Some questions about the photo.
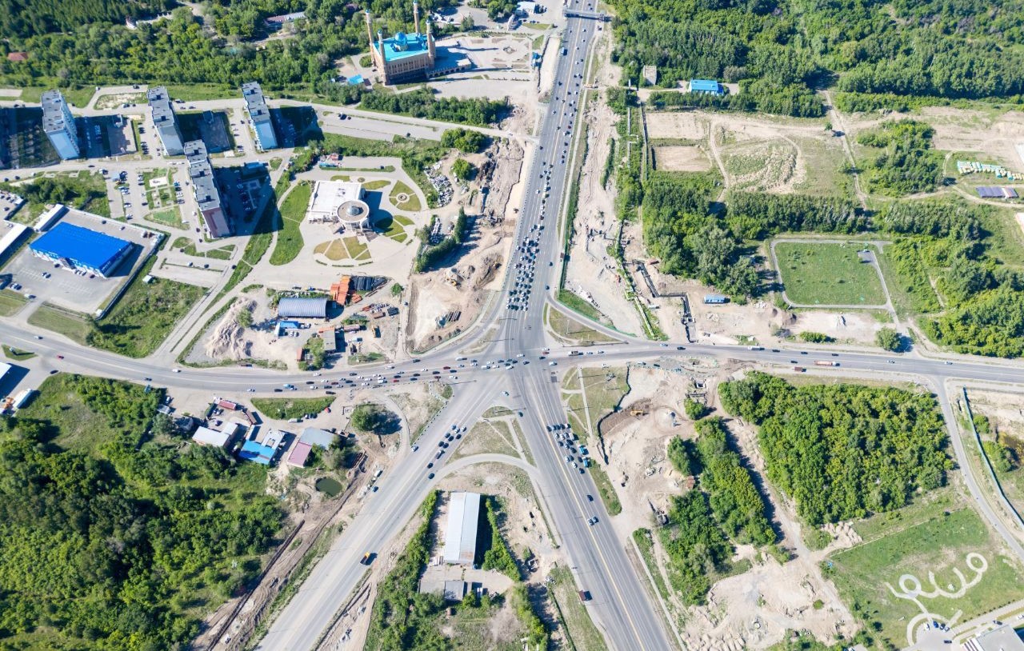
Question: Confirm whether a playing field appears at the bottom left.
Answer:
No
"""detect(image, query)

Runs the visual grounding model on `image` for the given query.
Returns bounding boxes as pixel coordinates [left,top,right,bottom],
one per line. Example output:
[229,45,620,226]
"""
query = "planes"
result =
[435,14,458,27]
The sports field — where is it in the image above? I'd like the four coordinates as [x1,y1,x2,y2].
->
[770,239,904,329]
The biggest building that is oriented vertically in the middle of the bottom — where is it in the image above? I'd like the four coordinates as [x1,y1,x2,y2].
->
[443,492,480,568]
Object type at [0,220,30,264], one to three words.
shed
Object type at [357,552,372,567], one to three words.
vehicle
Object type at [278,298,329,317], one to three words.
hangar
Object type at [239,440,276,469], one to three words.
building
